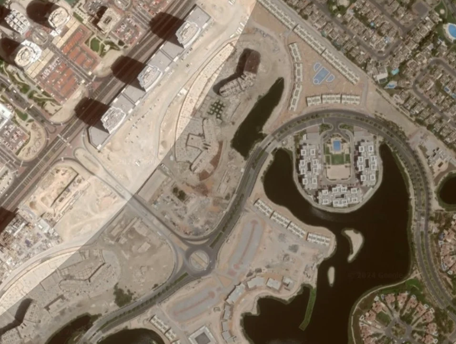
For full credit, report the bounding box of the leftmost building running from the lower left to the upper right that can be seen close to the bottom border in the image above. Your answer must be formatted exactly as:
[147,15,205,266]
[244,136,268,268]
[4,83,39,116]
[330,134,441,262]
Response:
[1,307,38,339]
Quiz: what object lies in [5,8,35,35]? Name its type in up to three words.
building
